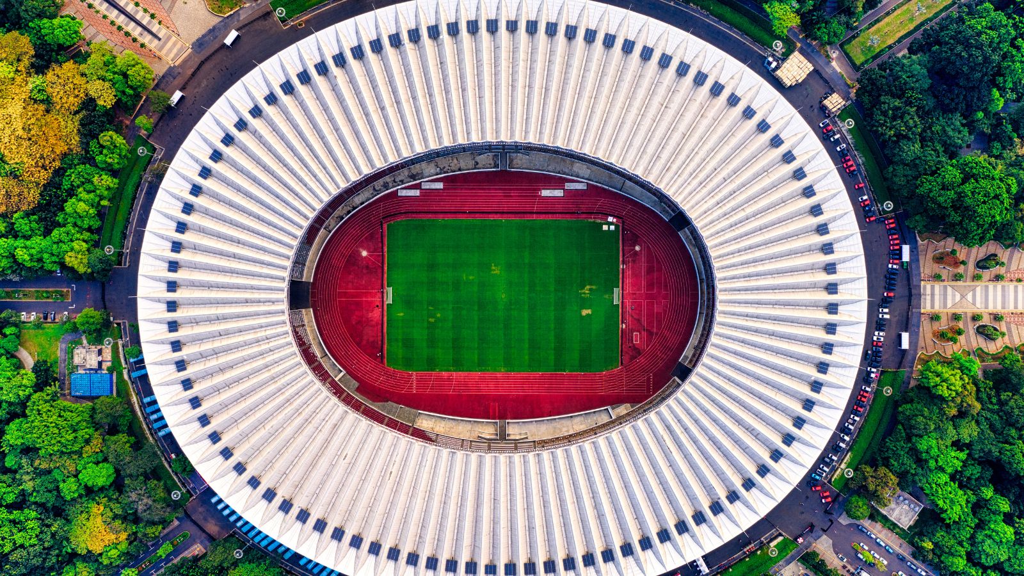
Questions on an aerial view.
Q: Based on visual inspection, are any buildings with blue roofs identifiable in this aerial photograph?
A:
Yes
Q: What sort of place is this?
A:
sports ground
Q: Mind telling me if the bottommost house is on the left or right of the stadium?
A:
to its right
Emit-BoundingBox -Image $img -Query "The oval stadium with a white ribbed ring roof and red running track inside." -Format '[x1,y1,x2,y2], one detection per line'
[129,0,868,576]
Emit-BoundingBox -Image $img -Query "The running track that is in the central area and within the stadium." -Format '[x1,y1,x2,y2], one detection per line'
[310,170,699,420]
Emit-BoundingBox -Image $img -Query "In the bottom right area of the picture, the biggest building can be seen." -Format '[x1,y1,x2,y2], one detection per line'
[870,490,923,534]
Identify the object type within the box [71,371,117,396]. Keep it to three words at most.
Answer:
building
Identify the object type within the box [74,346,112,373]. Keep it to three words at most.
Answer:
building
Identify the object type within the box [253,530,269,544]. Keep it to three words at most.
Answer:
vehicle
